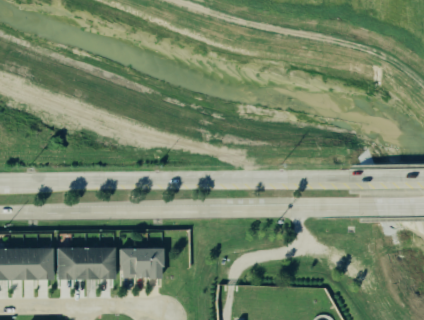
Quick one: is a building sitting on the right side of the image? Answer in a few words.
No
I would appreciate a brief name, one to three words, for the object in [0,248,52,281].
house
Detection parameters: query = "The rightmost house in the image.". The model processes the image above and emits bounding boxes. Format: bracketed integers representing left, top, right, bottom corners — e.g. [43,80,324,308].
[119,248,164,288]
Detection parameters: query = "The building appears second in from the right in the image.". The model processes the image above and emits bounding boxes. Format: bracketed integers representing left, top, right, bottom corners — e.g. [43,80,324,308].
[56,248,114,281]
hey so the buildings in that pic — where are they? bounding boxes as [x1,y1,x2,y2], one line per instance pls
[56,248,114,281]
[119,248,164,288]
[0,248,52,281]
